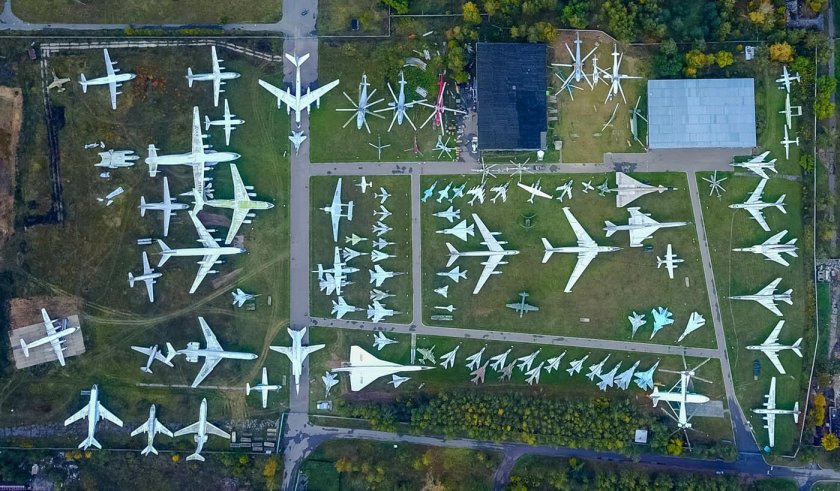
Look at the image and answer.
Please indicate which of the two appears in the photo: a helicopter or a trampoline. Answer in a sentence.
There is a helicopter in the scene.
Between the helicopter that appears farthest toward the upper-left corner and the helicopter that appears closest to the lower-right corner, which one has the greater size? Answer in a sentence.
It is the helicopter that appears closest to the lower-right corner that is larger, not the helicopter that appears farthest toward the upper-left corner.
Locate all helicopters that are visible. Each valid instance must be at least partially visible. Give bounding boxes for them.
[596,42,642,104]
[582,54,610,85]
[369,136,390,159]
[551,32,598,90]
[432,135,457,158]
[413,75,467,134]
[336,71,385,134]
[651,352,712,449]
[472,158,504,183]
[404,137,423,157]
[504,158,534,182]
[374,73,427,132]
[628,97,647,151]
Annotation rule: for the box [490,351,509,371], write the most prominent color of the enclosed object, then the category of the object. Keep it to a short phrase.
white airplane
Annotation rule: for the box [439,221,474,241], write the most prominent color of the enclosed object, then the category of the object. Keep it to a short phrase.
white airplane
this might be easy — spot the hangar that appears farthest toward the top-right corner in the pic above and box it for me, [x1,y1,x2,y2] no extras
[645,78,756,149]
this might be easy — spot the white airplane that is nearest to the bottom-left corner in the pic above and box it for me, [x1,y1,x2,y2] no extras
[62,384,121,452]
